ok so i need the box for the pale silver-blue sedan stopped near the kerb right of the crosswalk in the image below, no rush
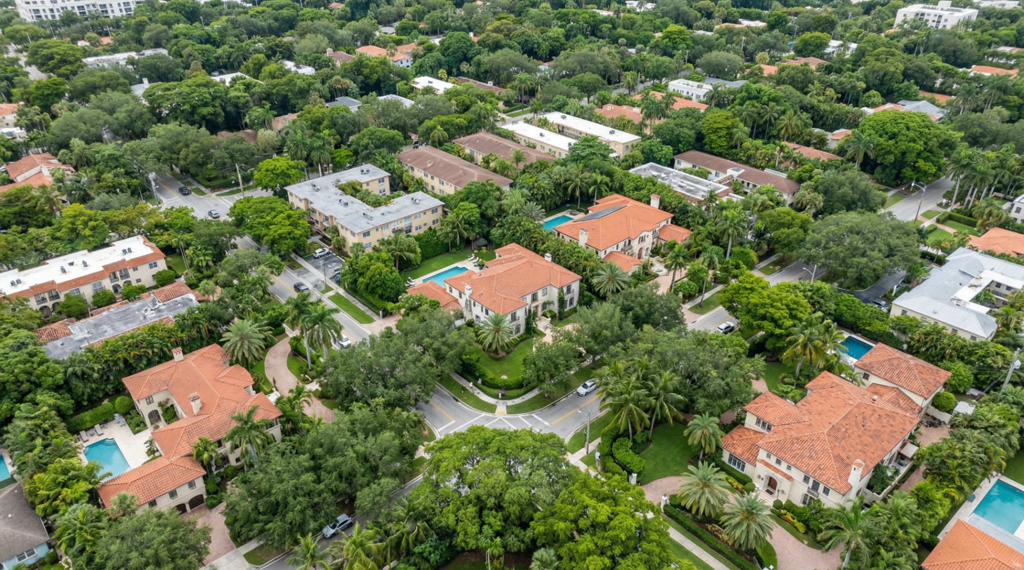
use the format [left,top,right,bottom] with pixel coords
[577,376,604,395]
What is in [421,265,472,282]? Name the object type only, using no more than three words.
swimming pool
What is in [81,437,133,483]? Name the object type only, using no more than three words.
swimming pool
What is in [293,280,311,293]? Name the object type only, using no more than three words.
vehicle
